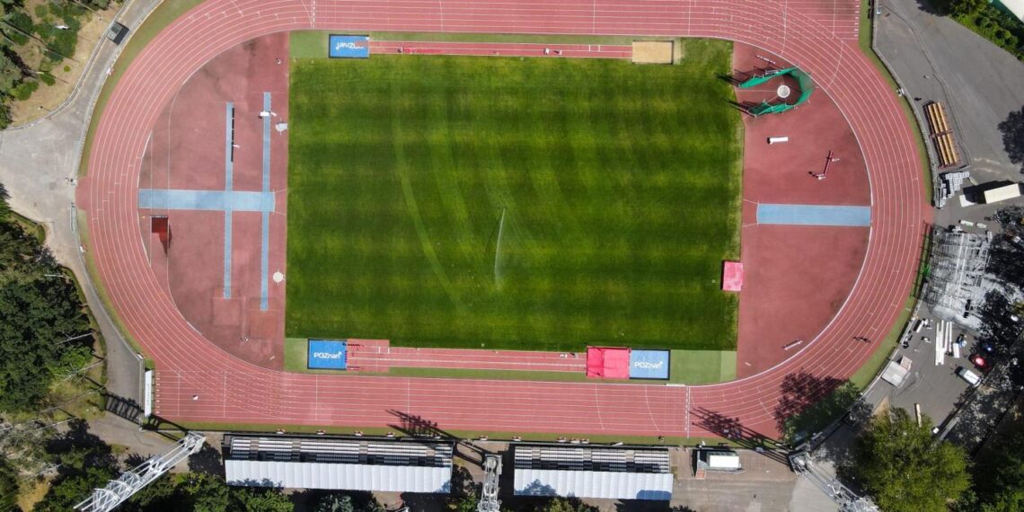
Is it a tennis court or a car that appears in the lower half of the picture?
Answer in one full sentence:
You can see a car in the lower half of the picture.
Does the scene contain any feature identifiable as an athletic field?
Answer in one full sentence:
Yes, an athletic field can be made out from above.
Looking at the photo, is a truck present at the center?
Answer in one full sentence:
No, the scene shows no truck at the center.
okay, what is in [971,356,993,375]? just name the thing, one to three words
car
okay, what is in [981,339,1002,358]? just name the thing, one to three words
car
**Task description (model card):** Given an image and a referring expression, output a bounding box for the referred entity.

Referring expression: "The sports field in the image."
[285,29,744,386]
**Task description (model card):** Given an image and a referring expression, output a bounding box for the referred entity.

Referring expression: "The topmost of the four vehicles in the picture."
[964,183,1021,207]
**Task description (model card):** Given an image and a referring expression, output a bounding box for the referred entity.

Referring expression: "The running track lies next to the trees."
[76,0,934,437]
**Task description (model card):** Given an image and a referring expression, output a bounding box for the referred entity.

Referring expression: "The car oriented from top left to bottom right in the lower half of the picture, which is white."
[958,369,981,387]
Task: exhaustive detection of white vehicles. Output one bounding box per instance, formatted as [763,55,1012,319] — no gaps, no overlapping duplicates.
[964,183,1021,207]
[958,369,981,387]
